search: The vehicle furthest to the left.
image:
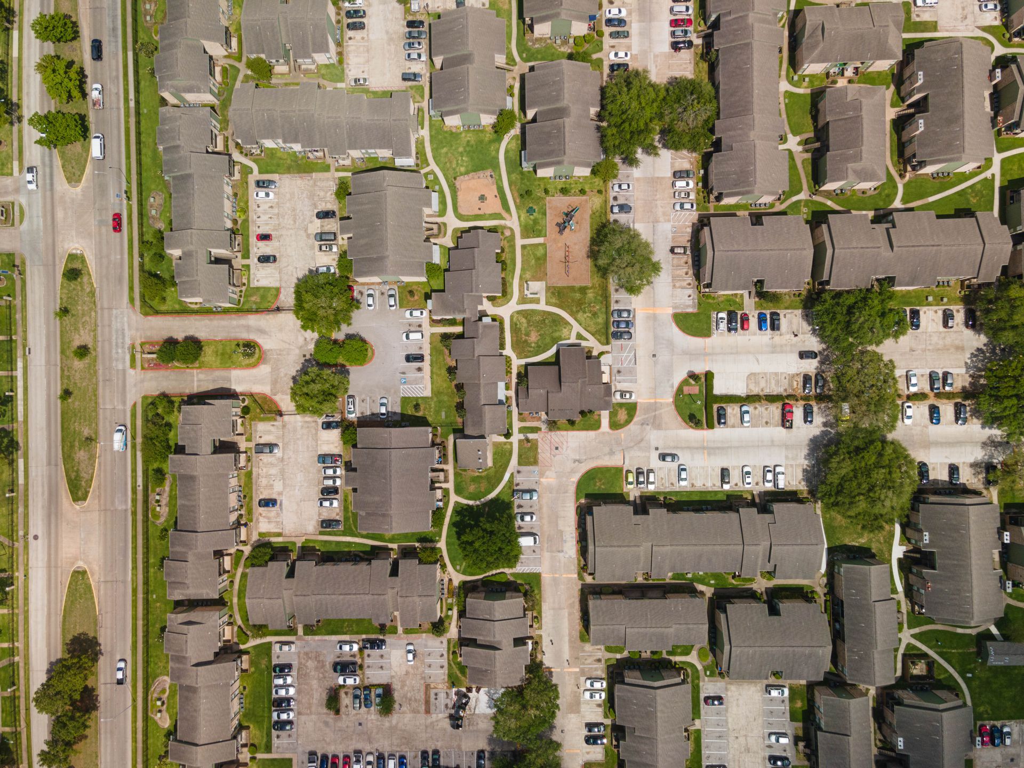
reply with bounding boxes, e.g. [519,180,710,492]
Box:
[24,165,37,190]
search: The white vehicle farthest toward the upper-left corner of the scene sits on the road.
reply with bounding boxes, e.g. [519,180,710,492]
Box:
[90,83,103,108]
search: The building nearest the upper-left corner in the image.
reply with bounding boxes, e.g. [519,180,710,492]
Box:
[155,0,238,102]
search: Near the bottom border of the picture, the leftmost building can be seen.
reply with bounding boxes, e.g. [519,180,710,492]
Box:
[164,606,249,768]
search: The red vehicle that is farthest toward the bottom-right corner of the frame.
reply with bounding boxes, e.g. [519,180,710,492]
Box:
[980,726,992,748]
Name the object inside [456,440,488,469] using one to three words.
shed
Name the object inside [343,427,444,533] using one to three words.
building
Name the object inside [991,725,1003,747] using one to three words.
vehicle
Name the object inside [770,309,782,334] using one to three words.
vehicle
